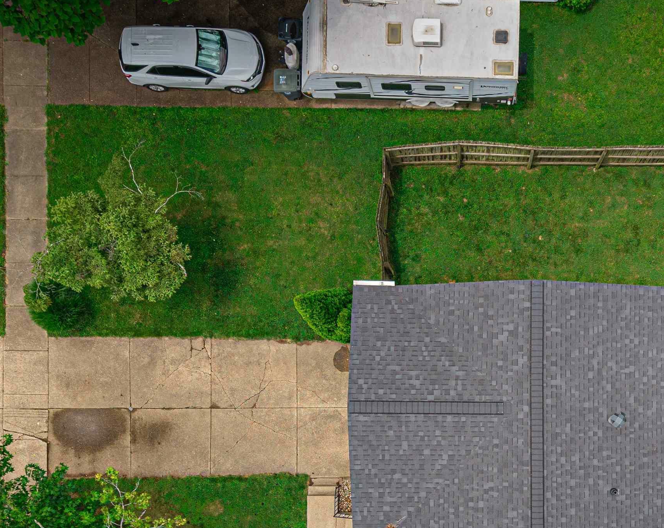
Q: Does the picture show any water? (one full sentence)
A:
No, the scene doesn't show any water.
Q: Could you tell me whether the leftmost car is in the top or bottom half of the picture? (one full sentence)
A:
You can find the leftmost car in the top half.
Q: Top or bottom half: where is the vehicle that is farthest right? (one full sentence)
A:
The vehicle that is farthest right sits in the top half of the picture.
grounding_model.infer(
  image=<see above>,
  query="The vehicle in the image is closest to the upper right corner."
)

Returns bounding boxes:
[279,0,525,112]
